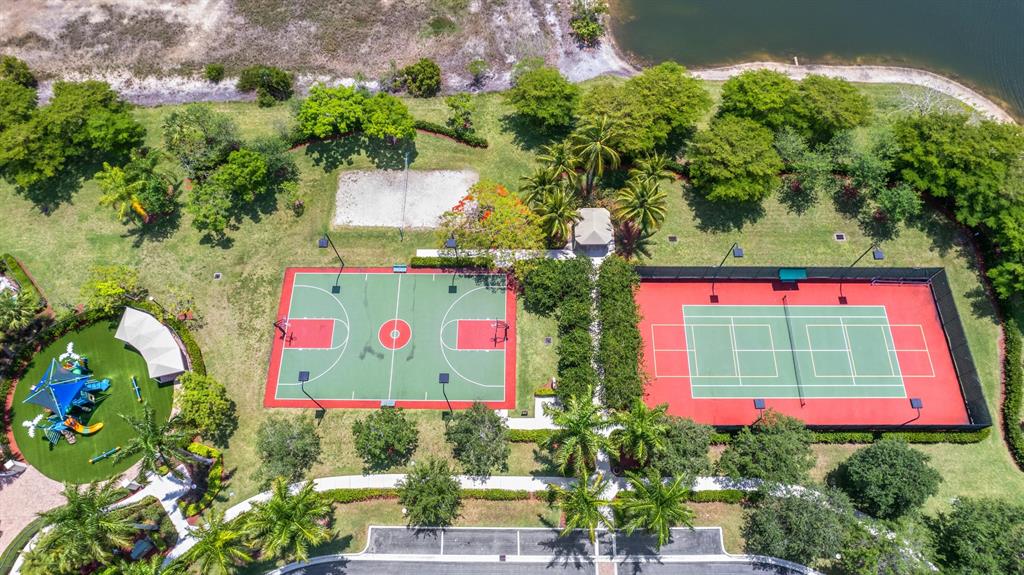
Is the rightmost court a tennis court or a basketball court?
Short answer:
tennis court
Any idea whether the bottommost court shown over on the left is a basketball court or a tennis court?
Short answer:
basketball court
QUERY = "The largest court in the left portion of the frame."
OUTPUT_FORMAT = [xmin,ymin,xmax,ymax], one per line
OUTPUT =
[264,266,516,410]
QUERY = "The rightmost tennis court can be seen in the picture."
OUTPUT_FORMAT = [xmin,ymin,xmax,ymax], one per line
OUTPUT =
[630,279,970,426]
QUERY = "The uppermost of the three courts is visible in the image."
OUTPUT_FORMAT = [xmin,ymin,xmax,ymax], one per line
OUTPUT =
[333,169,479,229]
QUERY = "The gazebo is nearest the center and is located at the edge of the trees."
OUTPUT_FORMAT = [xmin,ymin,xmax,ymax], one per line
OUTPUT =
[576,207,614,256]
